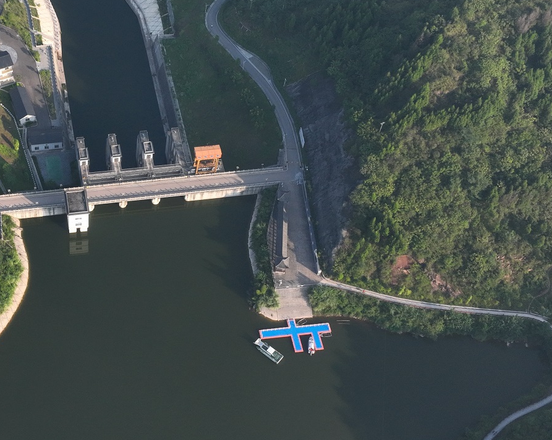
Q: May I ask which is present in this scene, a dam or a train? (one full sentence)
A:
There is a dam in the scene.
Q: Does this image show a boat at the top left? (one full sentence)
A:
No, no boat appears at the top left.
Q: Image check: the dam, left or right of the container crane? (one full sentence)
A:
To the left of the container crane is where the dam appears.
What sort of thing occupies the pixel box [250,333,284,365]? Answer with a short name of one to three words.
boat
